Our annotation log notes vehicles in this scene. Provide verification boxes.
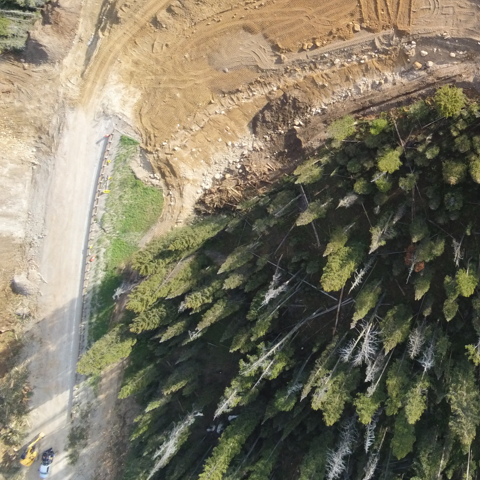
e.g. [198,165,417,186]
[38,446,58,480]
[23,439,45,469]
